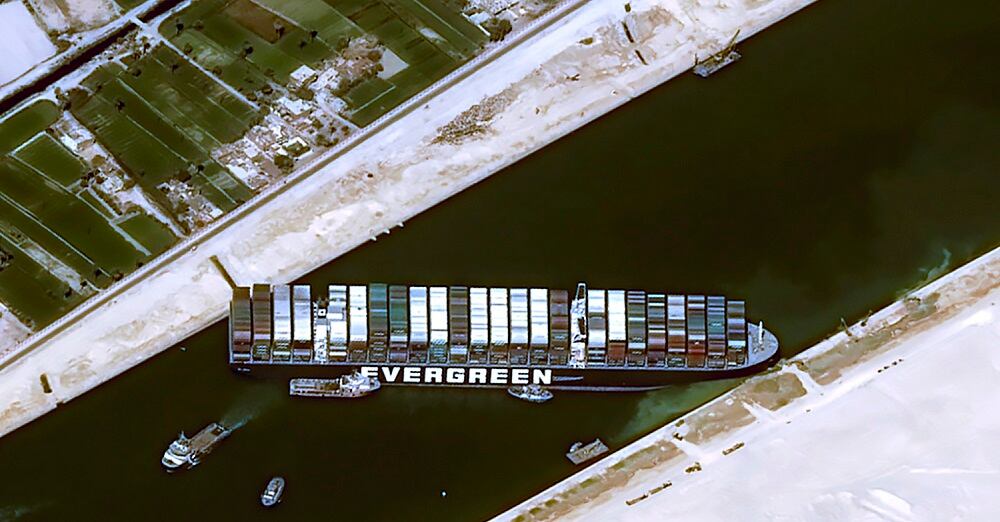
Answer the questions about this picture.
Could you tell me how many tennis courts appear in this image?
zero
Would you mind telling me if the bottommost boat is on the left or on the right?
left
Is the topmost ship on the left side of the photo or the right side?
right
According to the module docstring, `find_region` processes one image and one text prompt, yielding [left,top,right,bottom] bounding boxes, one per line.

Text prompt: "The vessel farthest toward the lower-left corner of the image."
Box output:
[164,422,229,466]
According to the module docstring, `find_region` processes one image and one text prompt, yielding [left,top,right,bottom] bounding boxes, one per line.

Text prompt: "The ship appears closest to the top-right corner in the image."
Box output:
[694,29,744,80]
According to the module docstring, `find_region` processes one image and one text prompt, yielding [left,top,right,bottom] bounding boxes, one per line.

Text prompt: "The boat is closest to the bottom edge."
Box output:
[262,480,285,505]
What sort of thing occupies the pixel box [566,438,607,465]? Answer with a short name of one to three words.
ship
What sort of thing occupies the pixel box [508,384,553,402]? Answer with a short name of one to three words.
boat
